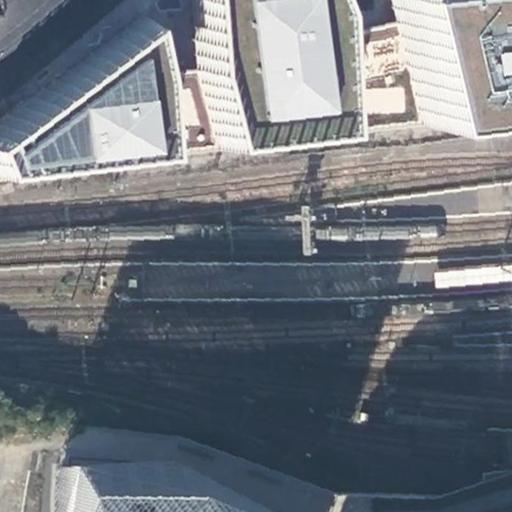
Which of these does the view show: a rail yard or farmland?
rail yard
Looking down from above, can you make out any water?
No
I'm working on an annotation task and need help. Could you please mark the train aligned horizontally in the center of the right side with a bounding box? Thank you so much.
[312,224,446,239]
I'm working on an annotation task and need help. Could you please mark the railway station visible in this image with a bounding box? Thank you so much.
[0,181,512,437]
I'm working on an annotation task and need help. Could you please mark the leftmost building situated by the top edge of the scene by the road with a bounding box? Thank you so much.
[0,20,188,184]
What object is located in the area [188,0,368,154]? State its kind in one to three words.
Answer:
building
